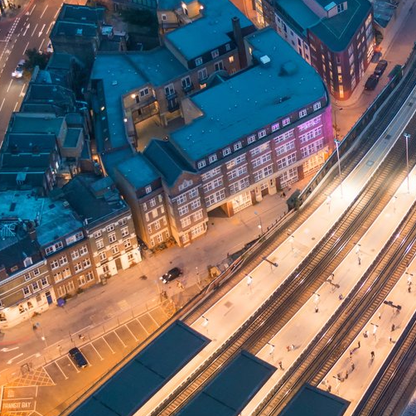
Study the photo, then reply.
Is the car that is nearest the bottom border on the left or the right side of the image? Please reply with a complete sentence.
The car that is nearest the bottom border sits on the left side.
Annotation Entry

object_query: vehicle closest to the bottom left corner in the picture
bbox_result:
[66,346,89,366]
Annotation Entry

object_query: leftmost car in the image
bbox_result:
[10,62,24,77]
